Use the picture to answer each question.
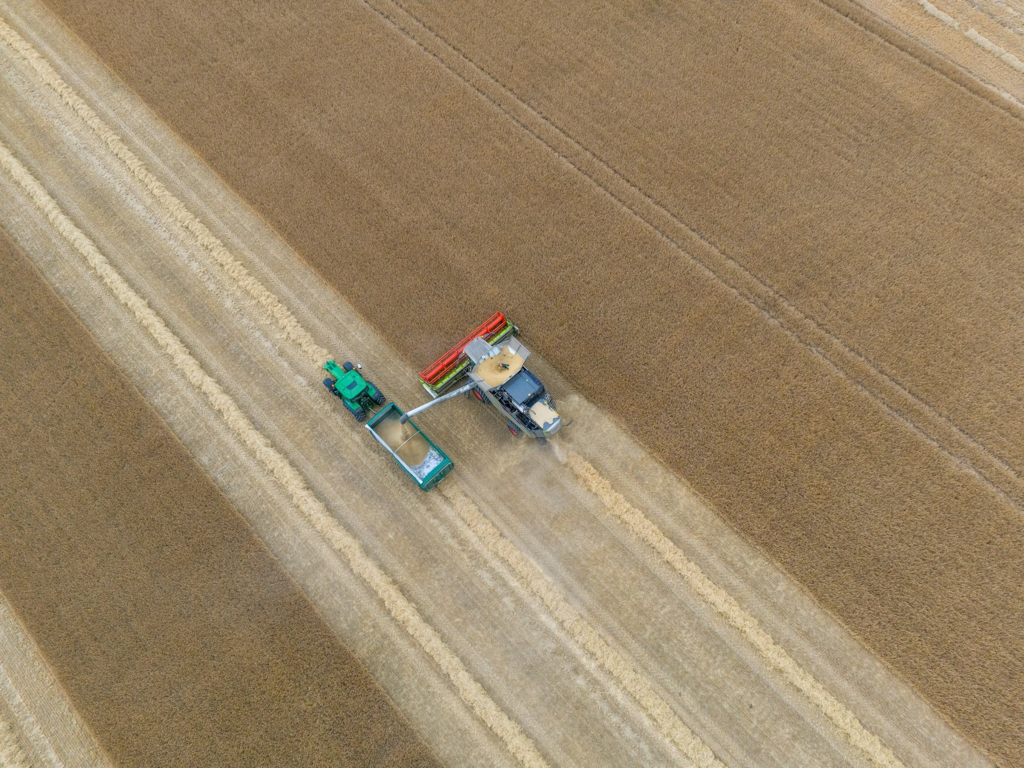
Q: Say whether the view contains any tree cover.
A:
No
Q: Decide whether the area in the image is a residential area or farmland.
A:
farmland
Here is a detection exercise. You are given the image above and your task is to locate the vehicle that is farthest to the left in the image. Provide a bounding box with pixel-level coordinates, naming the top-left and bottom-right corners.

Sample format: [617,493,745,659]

[323,361,385,423]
